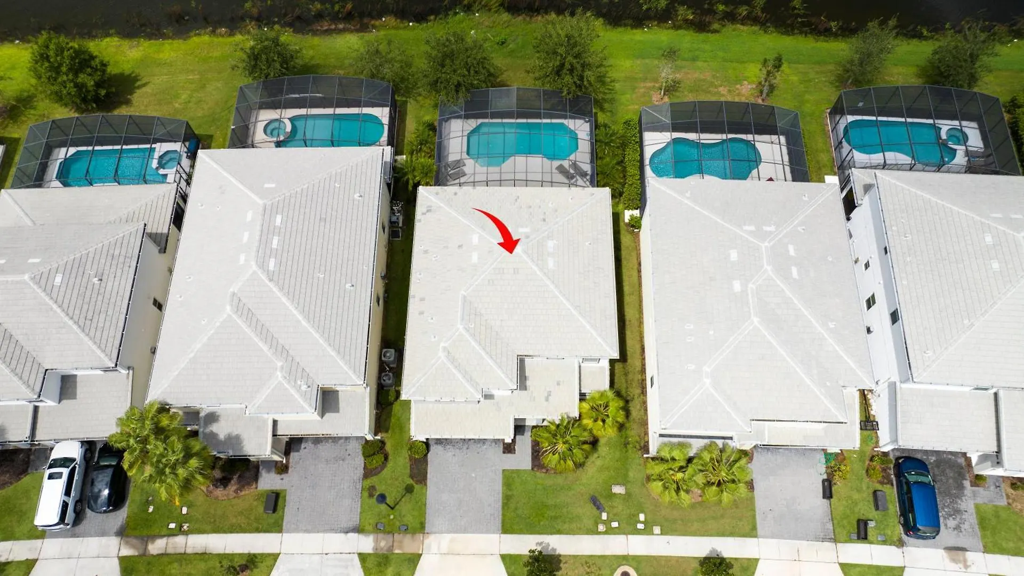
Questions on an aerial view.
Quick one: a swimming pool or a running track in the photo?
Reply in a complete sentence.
The image shows a swimming pool.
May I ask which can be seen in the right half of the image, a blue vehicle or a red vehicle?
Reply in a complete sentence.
What appears in the right half of the image is a blue vehicle.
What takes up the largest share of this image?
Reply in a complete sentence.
What you mostly see from above here is buildings.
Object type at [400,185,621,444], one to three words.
house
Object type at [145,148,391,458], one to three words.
house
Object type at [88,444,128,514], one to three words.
car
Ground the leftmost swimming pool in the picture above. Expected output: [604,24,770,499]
[52,145,180,185]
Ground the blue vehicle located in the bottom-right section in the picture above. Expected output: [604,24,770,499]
[892,457,946,538]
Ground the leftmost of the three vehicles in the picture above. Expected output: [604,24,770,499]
[28,444,90,529]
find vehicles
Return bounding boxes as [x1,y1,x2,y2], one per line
[28,444,90,529]
[892,457,946,538]
[88,444,128,514]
